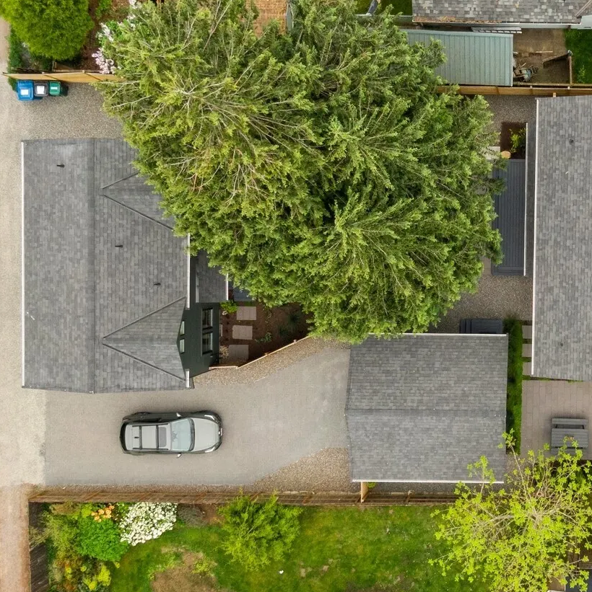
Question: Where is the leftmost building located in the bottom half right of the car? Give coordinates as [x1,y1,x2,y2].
[346,332,507,484]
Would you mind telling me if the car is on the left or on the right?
left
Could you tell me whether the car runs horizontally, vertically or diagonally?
horizontally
